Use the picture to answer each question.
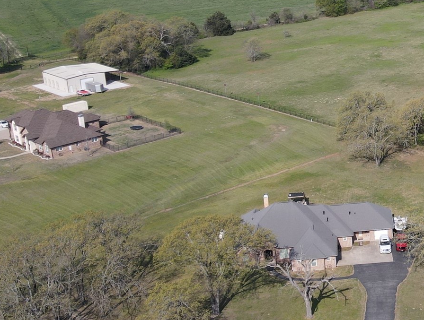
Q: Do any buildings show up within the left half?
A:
Yes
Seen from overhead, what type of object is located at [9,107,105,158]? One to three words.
house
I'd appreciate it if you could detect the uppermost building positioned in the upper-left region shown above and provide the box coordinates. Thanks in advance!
[42,63,120,93]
